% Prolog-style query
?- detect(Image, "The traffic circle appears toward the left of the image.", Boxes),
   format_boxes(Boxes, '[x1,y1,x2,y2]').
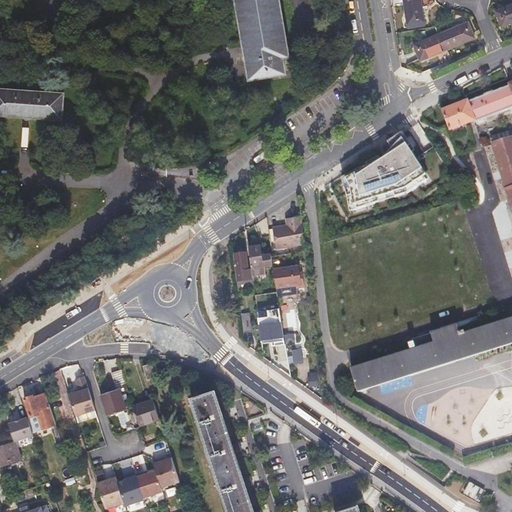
[112,240,232,364]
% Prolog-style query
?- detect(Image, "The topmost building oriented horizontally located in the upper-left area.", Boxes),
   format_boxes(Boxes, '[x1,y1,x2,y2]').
[0,88,64,122]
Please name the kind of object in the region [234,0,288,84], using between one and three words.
building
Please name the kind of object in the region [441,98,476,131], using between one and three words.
house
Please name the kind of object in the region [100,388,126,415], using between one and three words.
house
